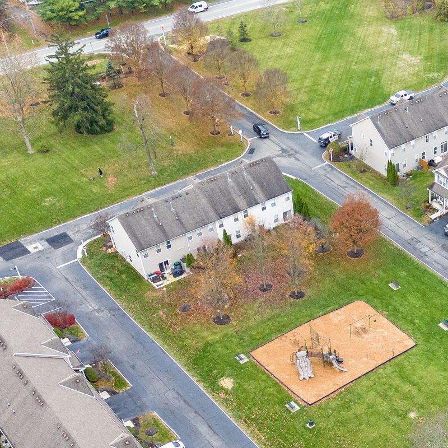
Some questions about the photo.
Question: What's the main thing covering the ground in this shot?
grass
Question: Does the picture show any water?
No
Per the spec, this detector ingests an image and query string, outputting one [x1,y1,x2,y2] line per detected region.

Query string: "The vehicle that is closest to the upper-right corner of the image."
[389,90,416,104]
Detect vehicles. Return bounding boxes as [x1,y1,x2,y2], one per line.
[93,29,114,39]
[161,438,189,448]
[389,90,416,104]
[251,123,271,138]
[316,130,339,146]
[440,222,448,235]
[188,0,208,12]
